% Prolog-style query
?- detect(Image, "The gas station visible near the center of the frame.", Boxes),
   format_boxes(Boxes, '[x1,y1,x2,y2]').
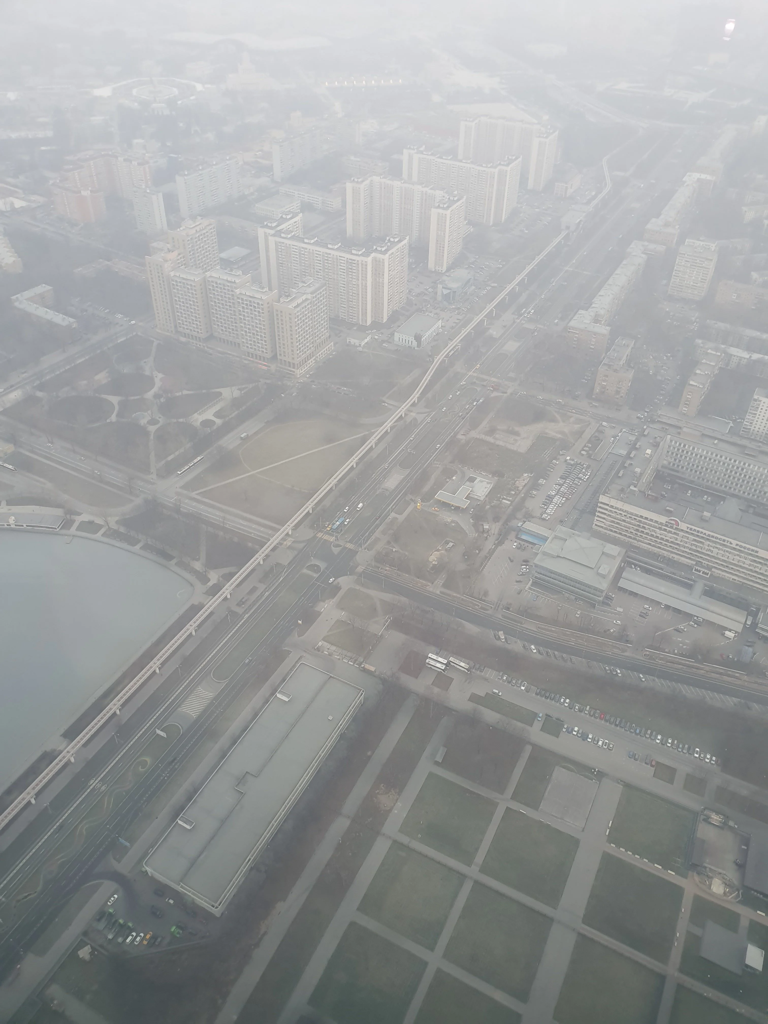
[434,475,493,510]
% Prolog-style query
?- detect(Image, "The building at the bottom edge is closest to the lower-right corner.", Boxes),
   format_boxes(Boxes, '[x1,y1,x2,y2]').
[744,944,764,973]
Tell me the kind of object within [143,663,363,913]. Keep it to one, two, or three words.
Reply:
building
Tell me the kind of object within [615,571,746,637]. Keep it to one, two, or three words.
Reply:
shed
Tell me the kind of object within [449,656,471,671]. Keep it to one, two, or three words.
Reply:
vehicle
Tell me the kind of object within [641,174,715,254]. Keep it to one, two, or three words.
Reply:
house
